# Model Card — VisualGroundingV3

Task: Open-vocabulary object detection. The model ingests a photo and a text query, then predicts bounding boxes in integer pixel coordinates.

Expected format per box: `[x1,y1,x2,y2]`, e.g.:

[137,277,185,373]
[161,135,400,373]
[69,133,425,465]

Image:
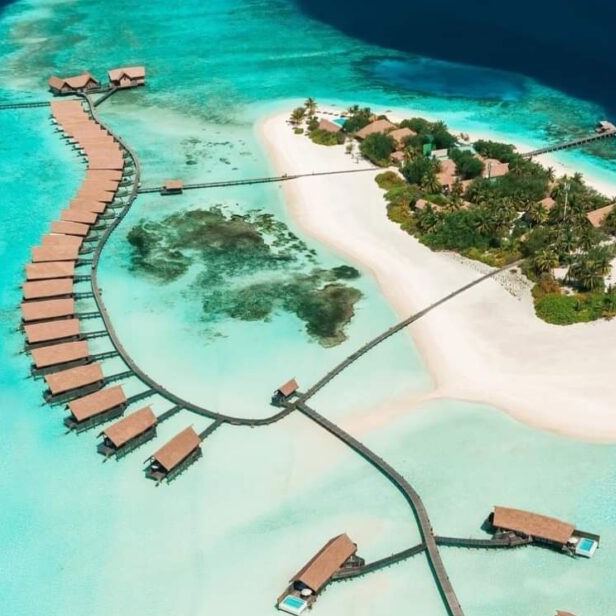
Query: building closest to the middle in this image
[270,377,301,408]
